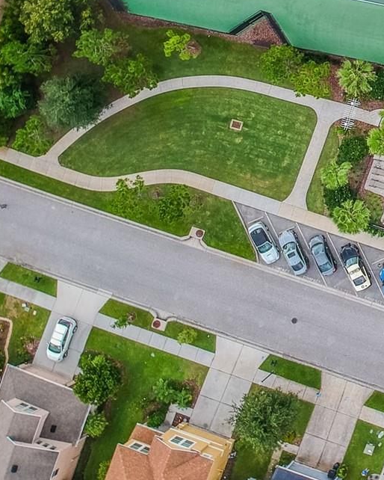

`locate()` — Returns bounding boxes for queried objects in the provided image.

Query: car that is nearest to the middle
[245,218,280,266]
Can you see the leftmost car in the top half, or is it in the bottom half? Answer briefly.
bottom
